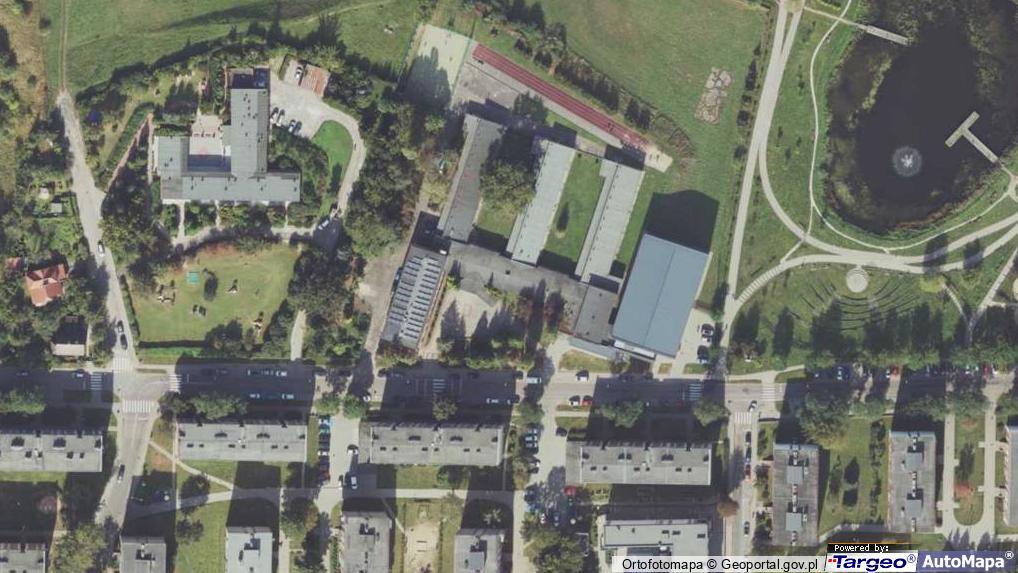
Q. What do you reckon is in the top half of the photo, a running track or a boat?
running track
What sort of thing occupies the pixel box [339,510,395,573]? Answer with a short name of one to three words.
building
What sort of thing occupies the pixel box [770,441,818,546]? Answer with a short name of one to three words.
building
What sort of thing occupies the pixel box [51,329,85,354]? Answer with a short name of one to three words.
house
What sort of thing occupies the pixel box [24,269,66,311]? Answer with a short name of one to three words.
house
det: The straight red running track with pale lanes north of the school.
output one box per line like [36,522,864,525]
[473,42,647,156]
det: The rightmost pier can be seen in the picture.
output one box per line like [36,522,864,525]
[945,111,998,163]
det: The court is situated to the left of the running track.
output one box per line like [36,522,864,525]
[406,25,469,113]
